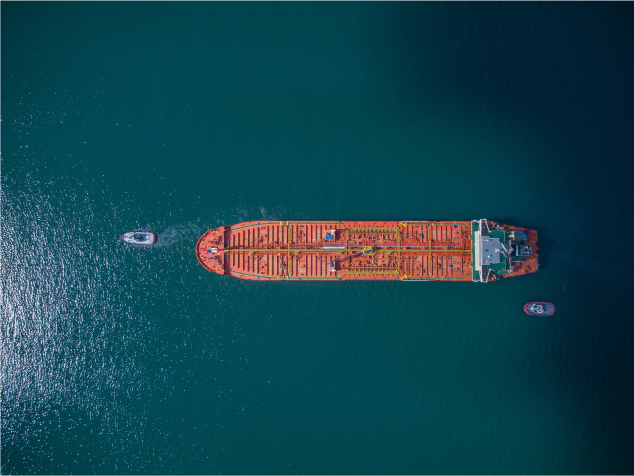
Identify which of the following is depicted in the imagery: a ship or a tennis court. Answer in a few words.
ship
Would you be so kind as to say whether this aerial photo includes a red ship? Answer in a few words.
Yes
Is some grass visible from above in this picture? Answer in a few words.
No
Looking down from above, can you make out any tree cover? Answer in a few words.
No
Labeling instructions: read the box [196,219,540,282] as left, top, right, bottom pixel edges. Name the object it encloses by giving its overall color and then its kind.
red ship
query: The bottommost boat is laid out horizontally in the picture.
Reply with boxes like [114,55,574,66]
[524,301,557,316]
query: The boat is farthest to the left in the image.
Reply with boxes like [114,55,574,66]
[119,231,156,246]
